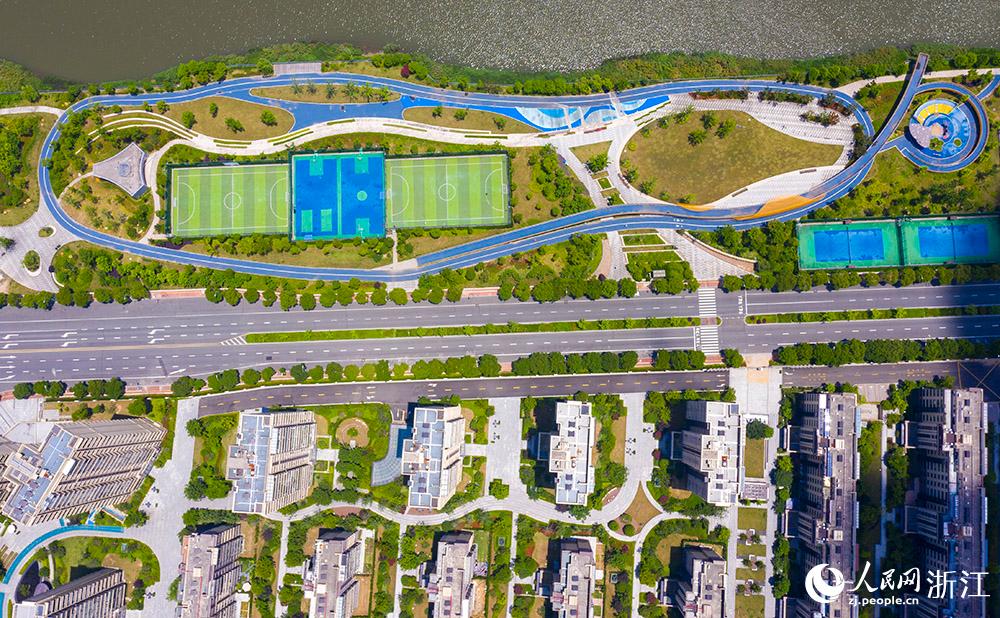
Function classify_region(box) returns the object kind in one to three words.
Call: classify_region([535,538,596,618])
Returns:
building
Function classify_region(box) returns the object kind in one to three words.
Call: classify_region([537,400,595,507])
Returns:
building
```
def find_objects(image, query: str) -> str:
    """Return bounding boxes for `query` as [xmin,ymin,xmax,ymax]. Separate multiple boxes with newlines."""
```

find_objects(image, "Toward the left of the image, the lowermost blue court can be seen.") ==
[288,147,387,242]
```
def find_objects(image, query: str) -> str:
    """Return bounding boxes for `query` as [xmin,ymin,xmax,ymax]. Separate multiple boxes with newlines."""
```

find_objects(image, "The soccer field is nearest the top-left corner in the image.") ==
[164,158,289,239]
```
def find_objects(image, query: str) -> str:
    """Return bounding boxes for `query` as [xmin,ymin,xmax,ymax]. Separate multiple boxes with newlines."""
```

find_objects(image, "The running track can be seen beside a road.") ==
[39,71,876,280]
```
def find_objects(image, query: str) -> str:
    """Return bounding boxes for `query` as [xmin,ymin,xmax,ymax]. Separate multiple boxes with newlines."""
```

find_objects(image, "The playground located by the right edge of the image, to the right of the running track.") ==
[907,100,971,161]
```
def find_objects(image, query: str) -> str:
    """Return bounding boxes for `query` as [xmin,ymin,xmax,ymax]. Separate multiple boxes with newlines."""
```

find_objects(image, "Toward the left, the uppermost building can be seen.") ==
[93,143,147,196]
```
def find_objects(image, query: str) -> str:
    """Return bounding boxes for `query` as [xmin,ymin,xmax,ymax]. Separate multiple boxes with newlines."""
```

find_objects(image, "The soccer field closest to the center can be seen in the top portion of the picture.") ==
[384,148,511,230]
